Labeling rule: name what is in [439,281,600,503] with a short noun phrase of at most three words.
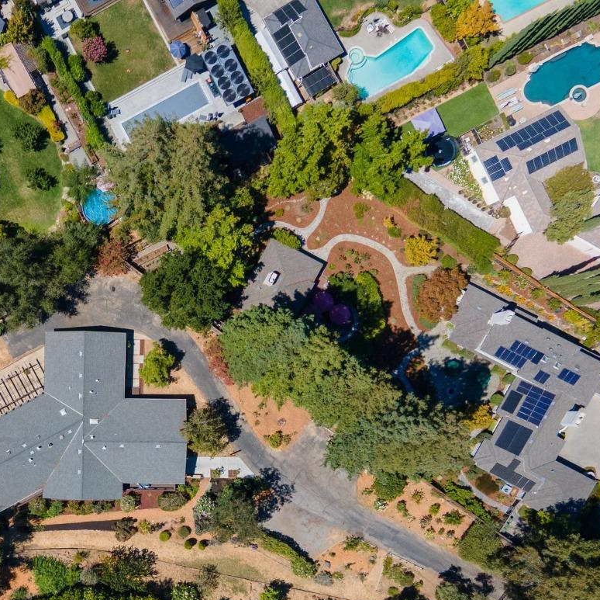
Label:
house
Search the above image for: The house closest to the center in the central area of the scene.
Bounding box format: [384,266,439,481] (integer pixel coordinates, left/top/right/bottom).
[239,238,327,317]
